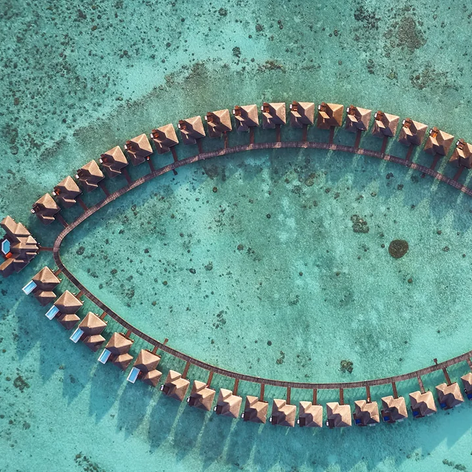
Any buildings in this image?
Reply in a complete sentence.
Yes, looking at the shot, I can spot a building.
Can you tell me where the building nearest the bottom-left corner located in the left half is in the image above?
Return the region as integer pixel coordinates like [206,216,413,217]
[162,368,192,402]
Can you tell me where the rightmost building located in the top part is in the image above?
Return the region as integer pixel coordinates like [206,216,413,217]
[447,139,472,170]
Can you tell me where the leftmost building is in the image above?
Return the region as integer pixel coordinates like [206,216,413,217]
[0,215,39,281]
